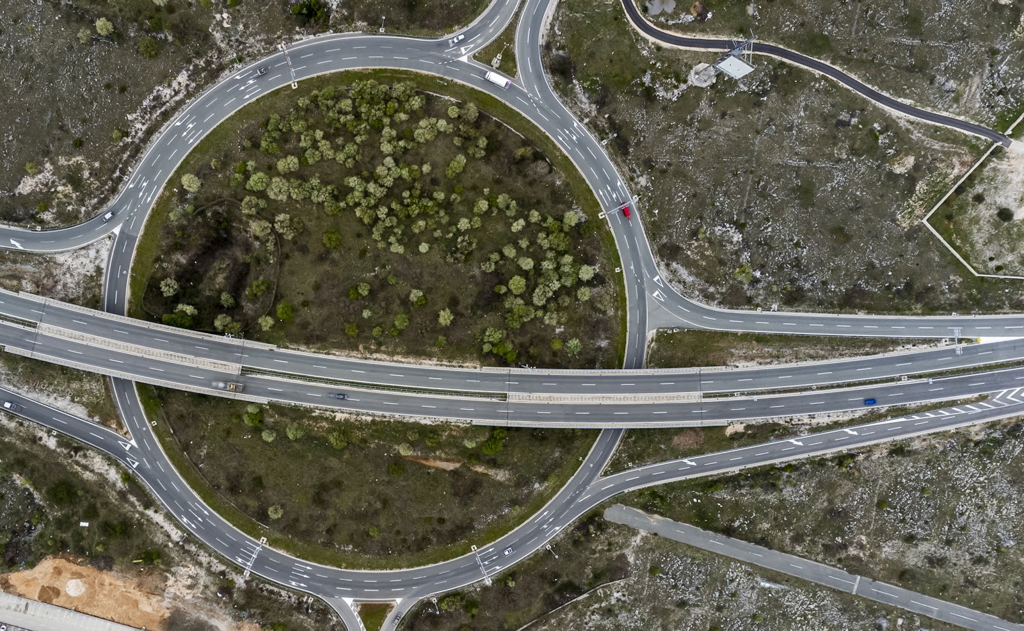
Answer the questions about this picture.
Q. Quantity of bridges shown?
2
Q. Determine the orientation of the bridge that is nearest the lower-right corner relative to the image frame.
from side to side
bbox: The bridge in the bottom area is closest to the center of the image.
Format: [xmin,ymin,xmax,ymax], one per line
[472,365,728,429]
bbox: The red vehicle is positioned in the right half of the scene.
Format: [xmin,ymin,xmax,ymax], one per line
[619,202,631,221]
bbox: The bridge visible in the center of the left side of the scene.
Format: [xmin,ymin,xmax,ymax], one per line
[4,290,276,404]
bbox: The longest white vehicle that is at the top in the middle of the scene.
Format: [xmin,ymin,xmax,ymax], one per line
[483,72,511,91]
